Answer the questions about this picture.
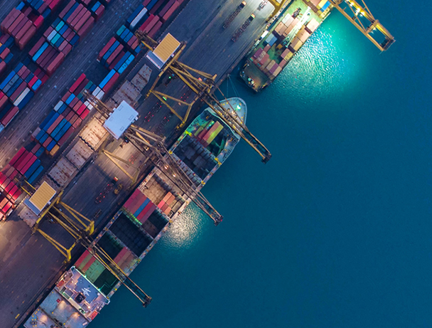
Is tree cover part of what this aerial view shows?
No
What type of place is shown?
port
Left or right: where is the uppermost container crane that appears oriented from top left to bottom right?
right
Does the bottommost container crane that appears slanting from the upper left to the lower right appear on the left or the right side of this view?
left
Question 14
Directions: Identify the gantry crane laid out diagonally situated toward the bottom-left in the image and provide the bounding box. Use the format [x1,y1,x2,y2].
[10,168,155,310]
